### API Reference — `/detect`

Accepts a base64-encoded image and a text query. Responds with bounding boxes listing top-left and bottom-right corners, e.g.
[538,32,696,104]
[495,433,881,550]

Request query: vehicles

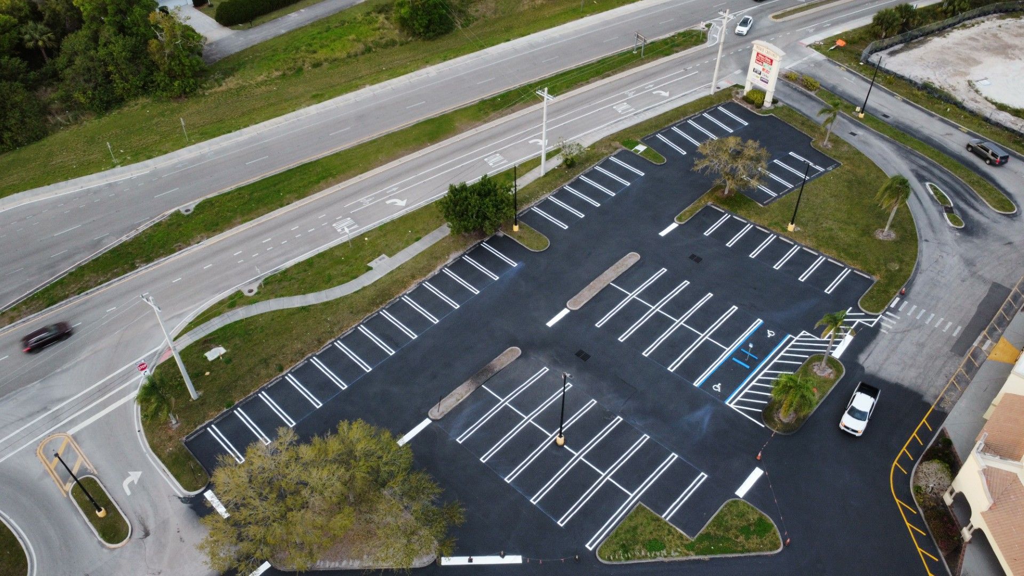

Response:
[840,381,885,440]
[965,137,1012,165]
[17,319,73,353]
[736,15,754,34]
